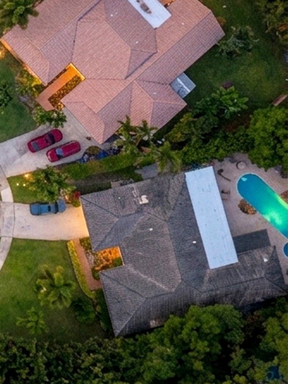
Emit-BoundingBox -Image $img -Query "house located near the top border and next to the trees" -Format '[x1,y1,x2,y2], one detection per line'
[0,0,227,144]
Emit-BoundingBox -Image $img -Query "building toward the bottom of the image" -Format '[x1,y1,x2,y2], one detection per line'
[75,166,288,337]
